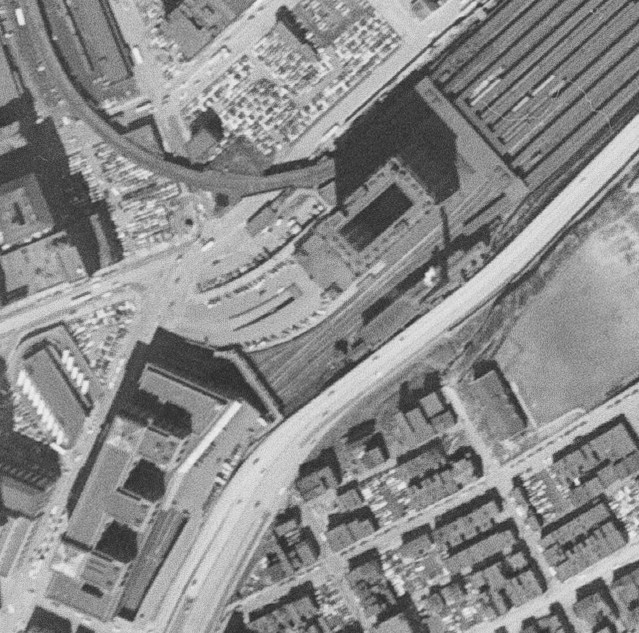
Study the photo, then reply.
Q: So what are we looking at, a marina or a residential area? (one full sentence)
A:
This looks like a residential area.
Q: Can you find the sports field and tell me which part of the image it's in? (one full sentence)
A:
The sports field is located in the right region of the scene.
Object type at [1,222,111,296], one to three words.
building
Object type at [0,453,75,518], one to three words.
building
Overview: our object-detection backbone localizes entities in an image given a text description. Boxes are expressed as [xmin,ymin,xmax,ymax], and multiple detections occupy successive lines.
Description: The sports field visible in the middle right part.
[500,200,639,424]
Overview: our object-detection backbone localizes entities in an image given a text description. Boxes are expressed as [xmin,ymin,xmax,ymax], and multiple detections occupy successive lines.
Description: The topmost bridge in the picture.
[26,0,344,193]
